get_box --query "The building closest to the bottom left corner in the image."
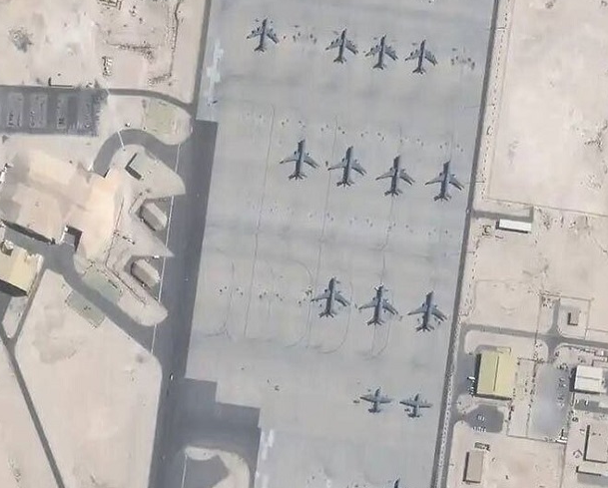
[0,241,44,295]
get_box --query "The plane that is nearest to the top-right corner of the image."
[408,38,439,71]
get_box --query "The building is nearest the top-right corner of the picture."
[499,219,532,232]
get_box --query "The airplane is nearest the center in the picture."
[313,275,351,315]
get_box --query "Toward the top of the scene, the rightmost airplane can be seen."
[429,158,466,198]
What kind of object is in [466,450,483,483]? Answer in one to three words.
building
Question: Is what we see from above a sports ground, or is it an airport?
airport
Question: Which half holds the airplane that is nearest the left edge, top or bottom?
top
